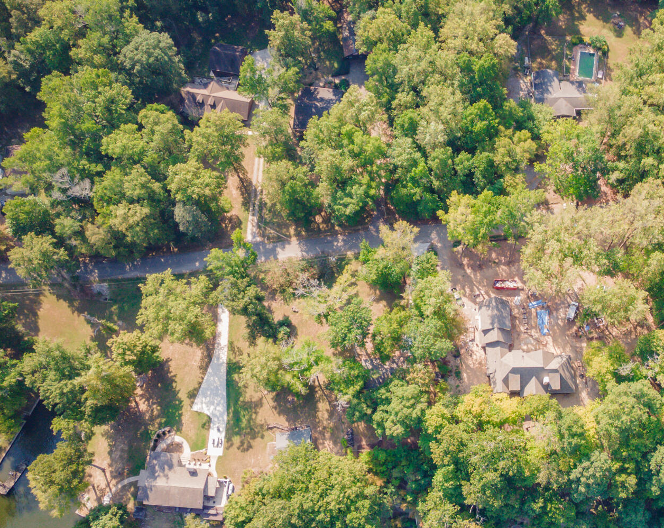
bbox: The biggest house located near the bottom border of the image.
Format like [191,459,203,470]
[136,452,218,508]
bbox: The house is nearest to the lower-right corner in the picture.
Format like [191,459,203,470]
[478,297,575,397]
